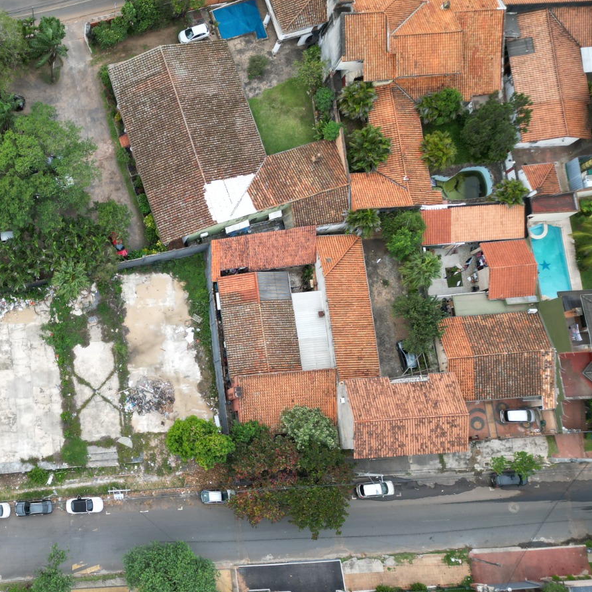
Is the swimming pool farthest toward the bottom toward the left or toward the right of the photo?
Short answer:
right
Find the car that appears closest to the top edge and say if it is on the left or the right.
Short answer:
left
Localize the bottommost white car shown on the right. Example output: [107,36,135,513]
[355,479,395,499]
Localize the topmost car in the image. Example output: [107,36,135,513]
[178,23,211,43]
